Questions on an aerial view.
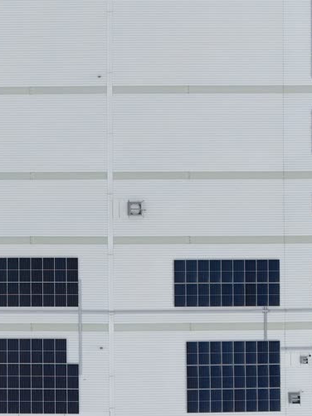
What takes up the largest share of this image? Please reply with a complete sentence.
Most of the picture is covered by buildings.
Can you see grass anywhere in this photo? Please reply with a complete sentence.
No, the picture contains no grass.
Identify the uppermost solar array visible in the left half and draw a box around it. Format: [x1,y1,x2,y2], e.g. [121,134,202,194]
[0,257,78,306]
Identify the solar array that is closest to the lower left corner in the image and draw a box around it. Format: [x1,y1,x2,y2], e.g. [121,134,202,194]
[0,339,79,414]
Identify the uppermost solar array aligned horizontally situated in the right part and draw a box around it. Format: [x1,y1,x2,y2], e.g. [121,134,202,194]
[174,258,281,307]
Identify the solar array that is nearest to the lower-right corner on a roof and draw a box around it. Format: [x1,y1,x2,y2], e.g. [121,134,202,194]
[186,340,281,414]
